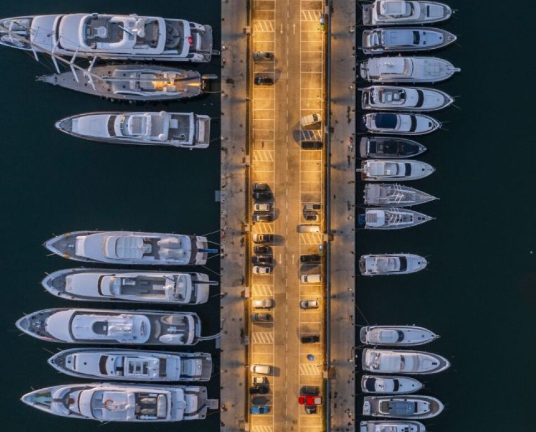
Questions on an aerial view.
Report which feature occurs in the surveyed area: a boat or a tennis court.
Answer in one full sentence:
Looking from above, you can make out a boat.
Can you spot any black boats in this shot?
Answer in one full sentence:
Yes, there is a black boat in the image.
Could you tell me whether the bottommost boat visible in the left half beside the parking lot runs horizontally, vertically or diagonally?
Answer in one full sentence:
The bottommost boat visible in the left half beside the parking lot has been laid out horizontally relative to the frame.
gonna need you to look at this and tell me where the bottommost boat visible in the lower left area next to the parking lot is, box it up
[19,382,221,423]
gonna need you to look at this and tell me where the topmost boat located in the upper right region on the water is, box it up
[361,0,459,27]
